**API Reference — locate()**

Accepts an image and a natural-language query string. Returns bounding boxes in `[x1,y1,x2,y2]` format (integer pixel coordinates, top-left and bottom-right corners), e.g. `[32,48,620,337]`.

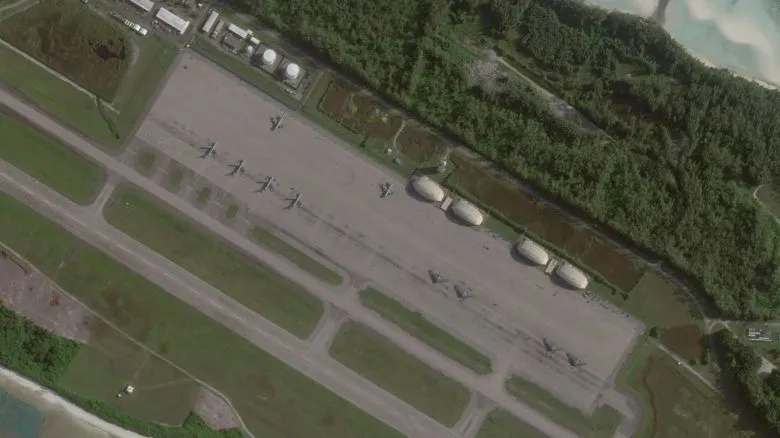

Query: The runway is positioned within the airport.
[0,158,452,438]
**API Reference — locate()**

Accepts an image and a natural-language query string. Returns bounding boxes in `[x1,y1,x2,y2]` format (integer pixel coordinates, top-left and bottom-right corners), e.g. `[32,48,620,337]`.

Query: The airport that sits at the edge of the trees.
[0,46,648,438]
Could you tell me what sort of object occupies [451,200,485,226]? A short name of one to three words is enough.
hangar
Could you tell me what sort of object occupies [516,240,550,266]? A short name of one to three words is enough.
hangar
